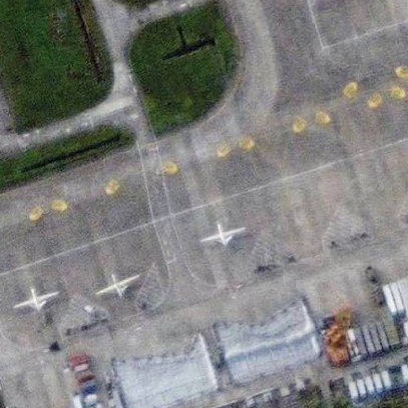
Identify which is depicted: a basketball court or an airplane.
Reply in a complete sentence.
This aerial view contains an airplane.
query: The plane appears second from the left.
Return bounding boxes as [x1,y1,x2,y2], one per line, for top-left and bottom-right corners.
[95,276,141,299]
